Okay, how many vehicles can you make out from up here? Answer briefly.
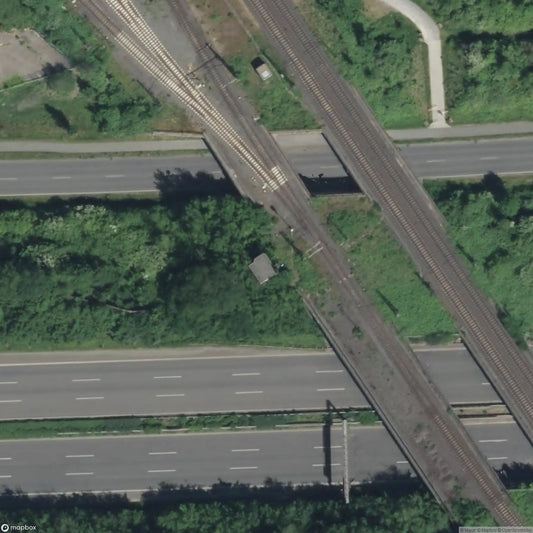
0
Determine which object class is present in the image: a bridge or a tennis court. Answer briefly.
bridge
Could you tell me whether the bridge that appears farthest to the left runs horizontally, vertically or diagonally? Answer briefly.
diagonally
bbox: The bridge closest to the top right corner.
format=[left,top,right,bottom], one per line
[320,124,423,195]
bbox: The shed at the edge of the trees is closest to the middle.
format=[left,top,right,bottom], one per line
[249,255,275,283]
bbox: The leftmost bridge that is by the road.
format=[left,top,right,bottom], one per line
[204,128,310,200]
